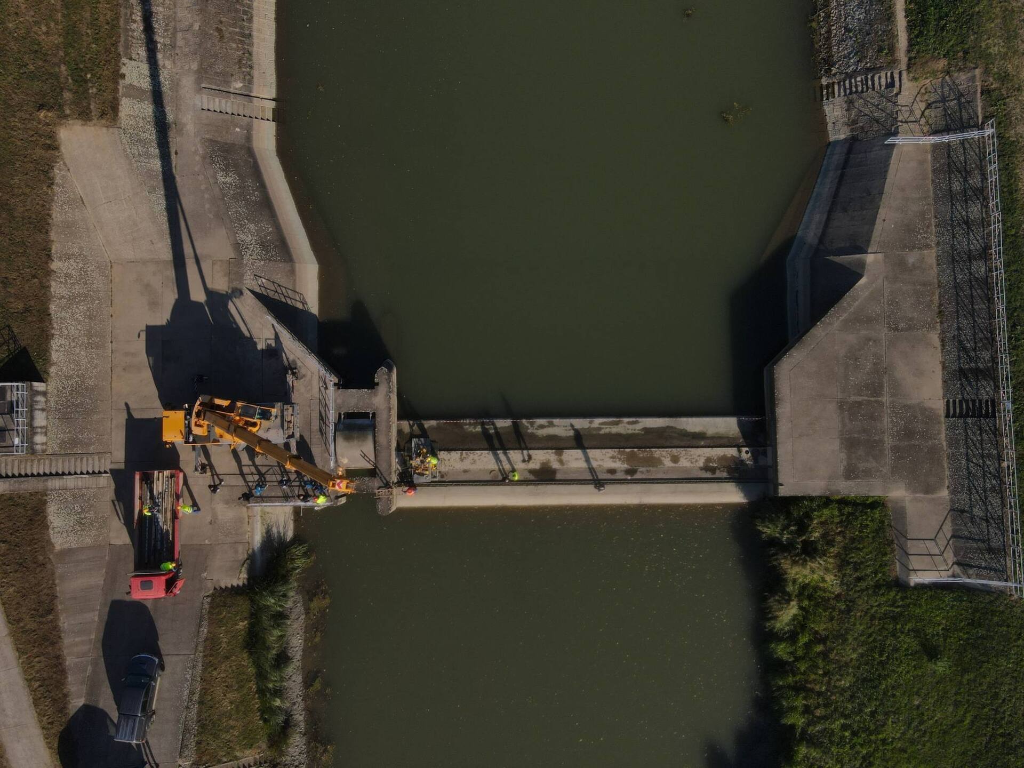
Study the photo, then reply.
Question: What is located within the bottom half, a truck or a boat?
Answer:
truck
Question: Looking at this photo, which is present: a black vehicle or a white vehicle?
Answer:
black vehicle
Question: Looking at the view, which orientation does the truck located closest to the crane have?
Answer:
from top to bottom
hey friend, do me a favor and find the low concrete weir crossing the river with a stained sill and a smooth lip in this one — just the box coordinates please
[336,363,765,513]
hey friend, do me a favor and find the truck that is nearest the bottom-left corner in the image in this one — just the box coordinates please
[113,647,166,745]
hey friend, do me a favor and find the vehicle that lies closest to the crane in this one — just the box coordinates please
[126,469,193,597]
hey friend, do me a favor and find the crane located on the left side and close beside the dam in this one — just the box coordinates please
[162,365,355,496]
